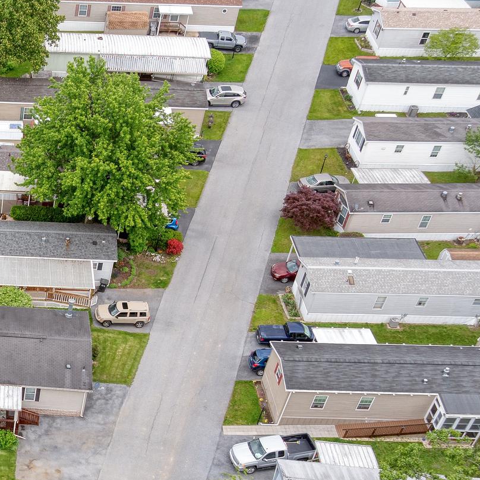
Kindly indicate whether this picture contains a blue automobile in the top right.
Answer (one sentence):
No, looking in the top right, there is no blue automobile.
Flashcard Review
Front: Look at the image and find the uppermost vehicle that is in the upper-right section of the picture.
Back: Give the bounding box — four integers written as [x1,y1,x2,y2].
[340,14,371,33]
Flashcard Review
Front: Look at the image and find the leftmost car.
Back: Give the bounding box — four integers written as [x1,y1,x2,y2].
[91,299,153,329]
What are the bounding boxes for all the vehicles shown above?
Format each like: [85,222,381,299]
[340,14,371,33]
[182,145,214,170]
[329,53,383,78]
[91,299,153,329]
[236,343,272,375]
[196,29,251,53]
[259,258,299,284]
[223,431,318,473]
[206,83,248,108]
[246,317,322,345]
[163,214,183,236]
